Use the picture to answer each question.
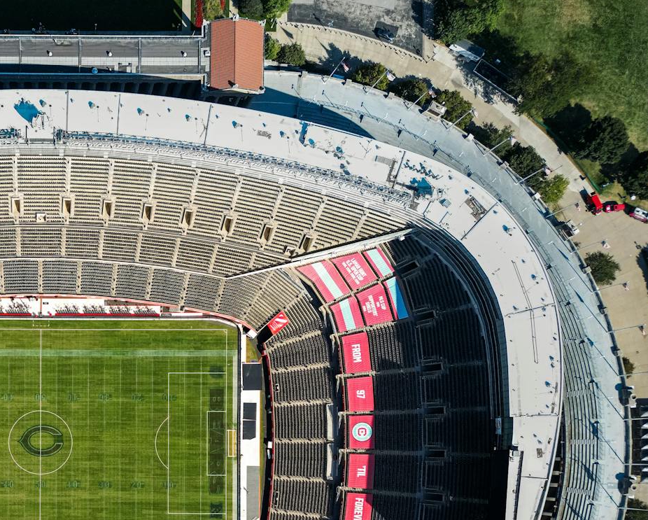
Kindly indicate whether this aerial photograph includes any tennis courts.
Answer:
No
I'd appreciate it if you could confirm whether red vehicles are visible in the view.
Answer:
Yes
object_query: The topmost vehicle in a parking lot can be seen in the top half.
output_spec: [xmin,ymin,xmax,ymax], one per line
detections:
[377,27,393,40]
